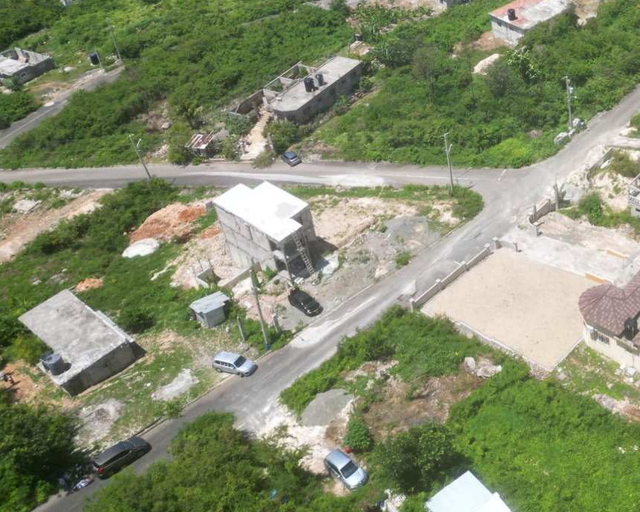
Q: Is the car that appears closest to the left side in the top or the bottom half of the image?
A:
bottom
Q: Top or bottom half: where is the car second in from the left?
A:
bottom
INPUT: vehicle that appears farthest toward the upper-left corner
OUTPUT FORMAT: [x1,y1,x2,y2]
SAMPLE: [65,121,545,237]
[280,147,301,165]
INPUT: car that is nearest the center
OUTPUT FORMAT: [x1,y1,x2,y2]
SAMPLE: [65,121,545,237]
[285,286,321,314]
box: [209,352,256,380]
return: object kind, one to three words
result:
car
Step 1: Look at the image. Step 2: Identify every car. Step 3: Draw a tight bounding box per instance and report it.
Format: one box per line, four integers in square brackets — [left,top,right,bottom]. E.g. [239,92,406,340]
[320,447,368,491]
[209,352,256,380]
[85,436,154,482]
[280,147,301,165]
[285,286,321,314]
